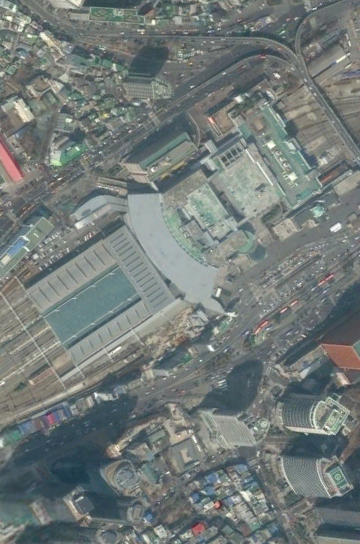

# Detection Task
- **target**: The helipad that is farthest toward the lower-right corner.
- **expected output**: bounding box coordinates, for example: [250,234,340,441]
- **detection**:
[329,467,347,486]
